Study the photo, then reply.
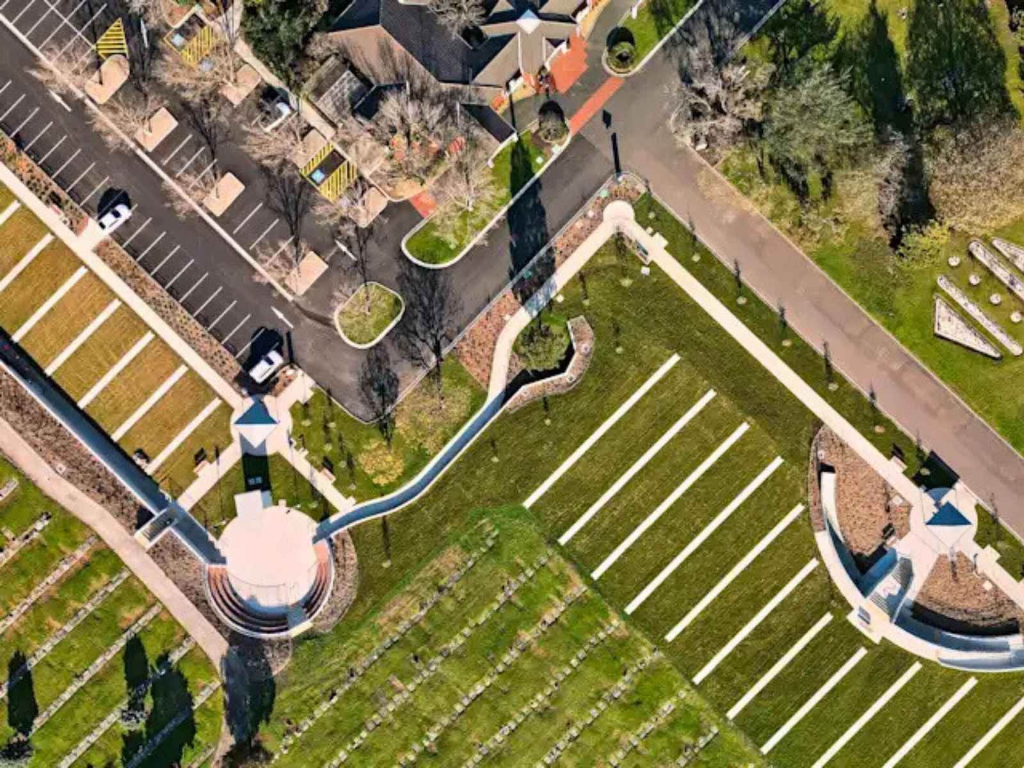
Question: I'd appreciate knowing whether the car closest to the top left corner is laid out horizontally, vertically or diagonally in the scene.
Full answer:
In this picture, the car closest to the top left corner lies diagonally.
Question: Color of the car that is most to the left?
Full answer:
The car that is most to the left is white.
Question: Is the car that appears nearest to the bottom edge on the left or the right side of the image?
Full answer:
The car that appears nearest to the bottom edge is on the left side of the image.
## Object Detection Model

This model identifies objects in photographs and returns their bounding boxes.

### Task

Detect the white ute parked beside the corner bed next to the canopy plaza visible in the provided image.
[245,349,284,384]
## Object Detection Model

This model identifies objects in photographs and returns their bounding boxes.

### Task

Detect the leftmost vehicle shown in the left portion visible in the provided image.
[95,201,134,235]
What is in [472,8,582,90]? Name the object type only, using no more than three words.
building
